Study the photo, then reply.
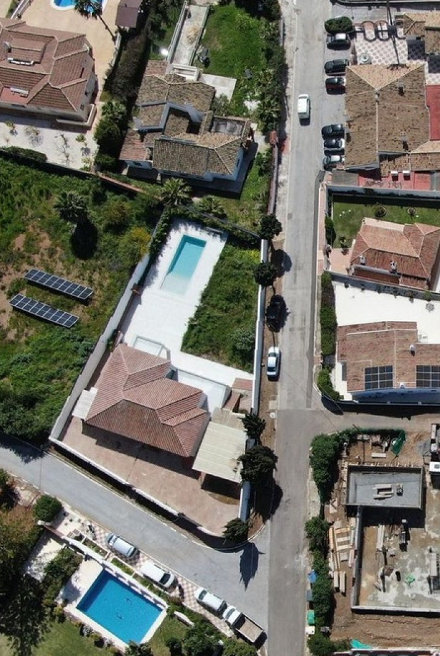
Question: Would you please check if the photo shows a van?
Yes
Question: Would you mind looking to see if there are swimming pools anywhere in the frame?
Yes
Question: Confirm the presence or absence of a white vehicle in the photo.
Yes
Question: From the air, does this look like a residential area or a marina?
residential area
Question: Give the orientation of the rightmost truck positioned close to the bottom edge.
on a diagonal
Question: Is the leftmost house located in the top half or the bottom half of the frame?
top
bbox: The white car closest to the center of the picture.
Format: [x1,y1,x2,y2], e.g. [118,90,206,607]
[265,348,281,377]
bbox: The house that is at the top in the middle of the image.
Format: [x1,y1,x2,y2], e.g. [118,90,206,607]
[119,60,255,182]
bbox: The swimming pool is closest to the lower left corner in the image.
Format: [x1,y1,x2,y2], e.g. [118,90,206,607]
[66,564,171,653]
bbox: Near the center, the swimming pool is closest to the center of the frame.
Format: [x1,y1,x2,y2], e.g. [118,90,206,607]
[156,232,208,297]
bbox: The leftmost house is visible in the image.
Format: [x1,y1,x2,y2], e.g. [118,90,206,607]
[0,16,102,129]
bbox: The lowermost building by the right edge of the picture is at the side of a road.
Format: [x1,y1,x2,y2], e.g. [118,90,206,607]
[336,321,440,396]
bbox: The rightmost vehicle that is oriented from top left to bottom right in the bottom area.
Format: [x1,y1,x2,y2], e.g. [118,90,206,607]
[220,604,266,647]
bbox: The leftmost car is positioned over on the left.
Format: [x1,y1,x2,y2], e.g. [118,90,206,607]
[104,531,141,562]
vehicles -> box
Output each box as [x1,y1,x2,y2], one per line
[134,557,178,590]
[323,138,346,152]
[323,154,345,168]
[220,604,266,647]
[324,59,349,74]
[193,585,228,615]
[104,531,141,562]
[265,348,281,377]
[430,424,440,475]
[325,76,346,92]
[266,297,283,329]
[295,95,310,121]
[322,124,345,137]
[327,34,352,49]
